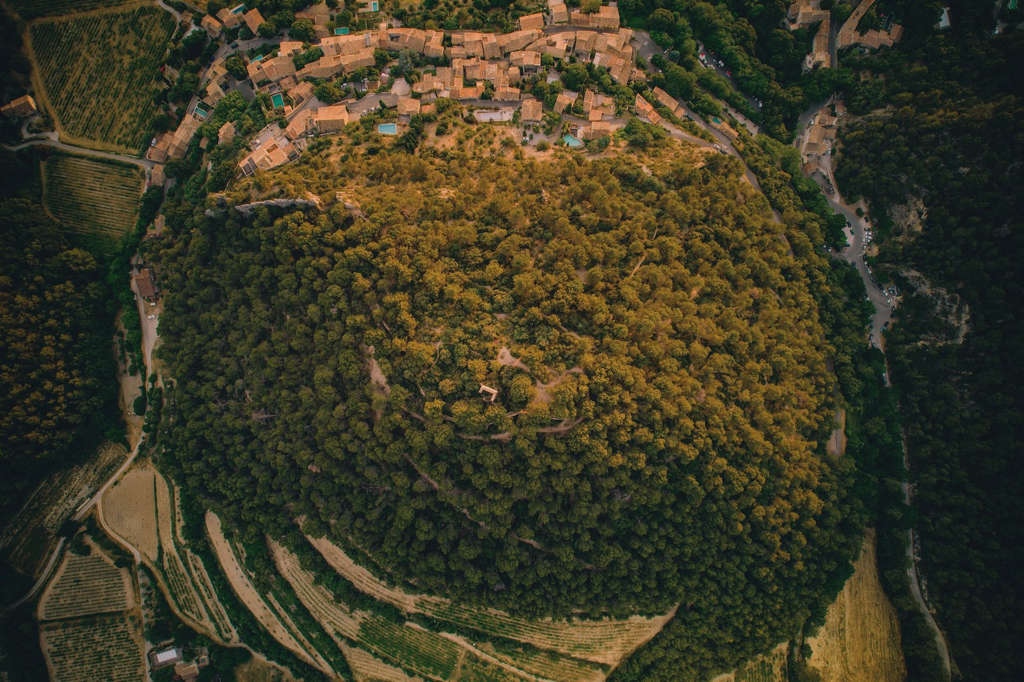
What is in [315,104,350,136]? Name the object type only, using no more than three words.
house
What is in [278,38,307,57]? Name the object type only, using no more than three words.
house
